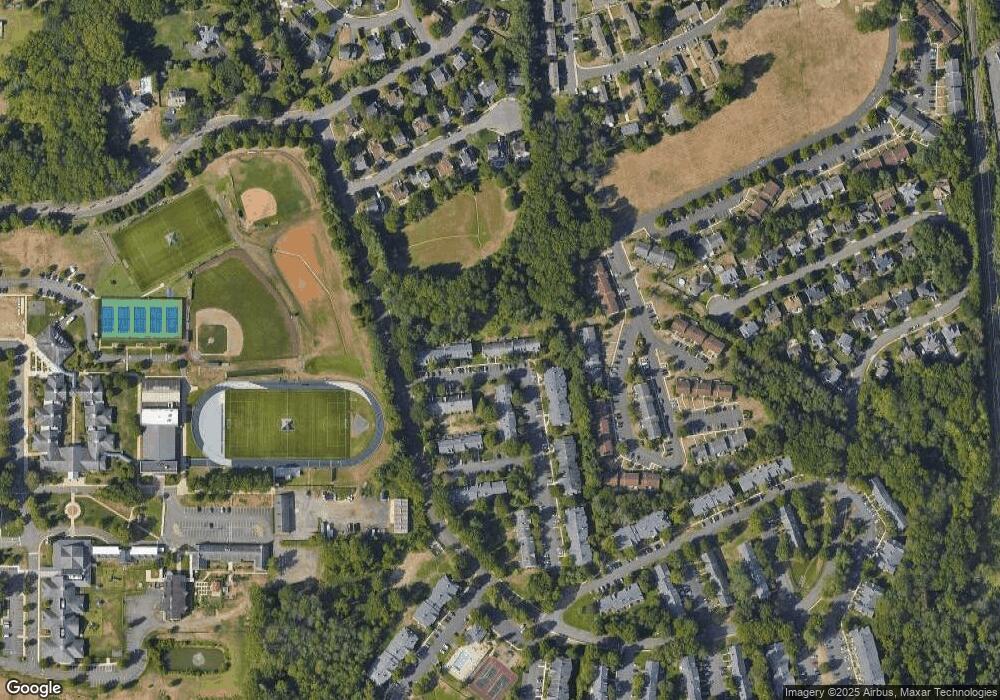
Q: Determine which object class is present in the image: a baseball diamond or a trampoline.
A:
baseball diamond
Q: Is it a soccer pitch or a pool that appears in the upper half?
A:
soccer pitch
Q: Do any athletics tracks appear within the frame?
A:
Yes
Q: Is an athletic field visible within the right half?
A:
No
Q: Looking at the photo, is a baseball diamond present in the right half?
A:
No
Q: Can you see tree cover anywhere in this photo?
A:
Yes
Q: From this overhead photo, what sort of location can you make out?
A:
residential area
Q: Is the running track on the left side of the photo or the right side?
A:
left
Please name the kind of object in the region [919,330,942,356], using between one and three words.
house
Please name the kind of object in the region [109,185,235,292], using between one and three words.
soccer field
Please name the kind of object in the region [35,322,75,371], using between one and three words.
building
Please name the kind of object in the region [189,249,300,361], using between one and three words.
baseball field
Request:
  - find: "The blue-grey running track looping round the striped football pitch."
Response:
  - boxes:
[190,380,385,468]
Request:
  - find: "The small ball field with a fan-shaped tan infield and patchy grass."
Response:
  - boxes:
[218,151,318,228]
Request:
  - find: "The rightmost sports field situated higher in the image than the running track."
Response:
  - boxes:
[273,223,346,351]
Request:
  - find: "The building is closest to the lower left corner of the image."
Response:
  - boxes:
[38,542,97,667]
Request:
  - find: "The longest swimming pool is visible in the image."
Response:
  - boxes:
[445,640,492,682]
